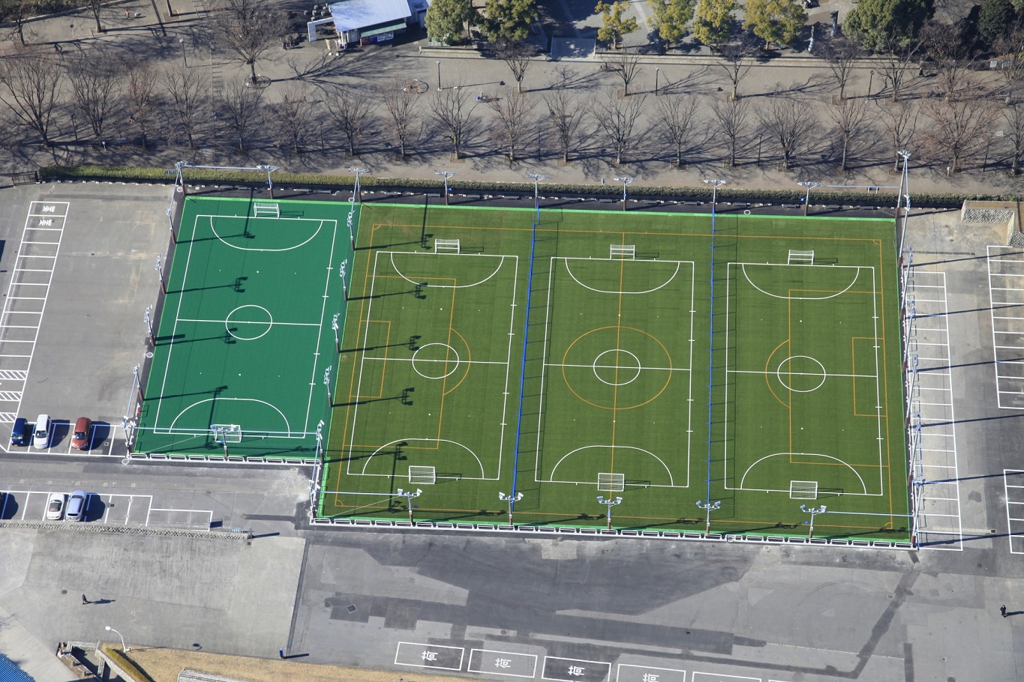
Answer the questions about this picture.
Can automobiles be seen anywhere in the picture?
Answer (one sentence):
Yes, there's an automobile down there.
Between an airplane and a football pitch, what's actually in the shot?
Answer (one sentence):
There is a football pitch in the scene.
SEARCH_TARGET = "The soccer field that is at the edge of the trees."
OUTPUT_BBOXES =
[333,224,891,528]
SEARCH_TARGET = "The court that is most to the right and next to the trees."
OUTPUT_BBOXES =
[709,211,910,541]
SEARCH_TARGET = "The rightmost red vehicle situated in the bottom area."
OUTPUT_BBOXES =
[69,419,89,450]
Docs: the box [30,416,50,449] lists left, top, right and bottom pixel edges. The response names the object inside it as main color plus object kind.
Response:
white car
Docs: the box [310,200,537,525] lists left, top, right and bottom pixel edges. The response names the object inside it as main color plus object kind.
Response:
green sports court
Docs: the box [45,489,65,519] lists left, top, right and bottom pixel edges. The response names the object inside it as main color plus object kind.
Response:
white car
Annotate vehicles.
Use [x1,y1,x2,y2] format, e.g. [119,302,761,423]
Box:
[11,417,30,445]
[30,416,50,449]
[45,489,65,519]
[66,486,87,518]
[69,419,89,450]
